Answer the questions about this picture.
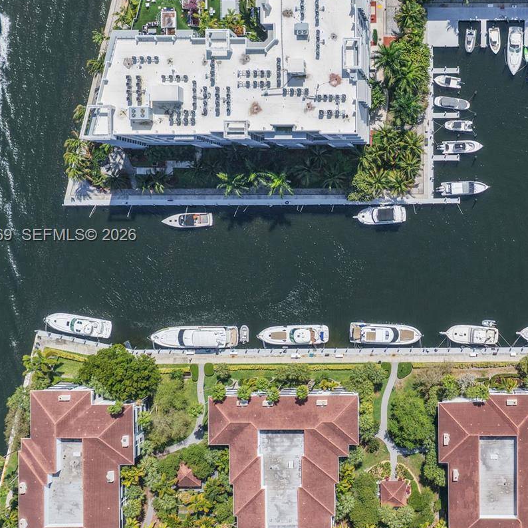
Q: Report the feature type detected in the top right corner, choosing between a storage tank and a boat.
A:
boat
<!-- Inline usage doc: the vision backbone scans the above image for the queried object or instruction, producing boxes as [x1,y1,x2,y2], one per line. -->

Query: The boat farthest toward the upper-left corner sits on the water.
[163,213,215,228]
